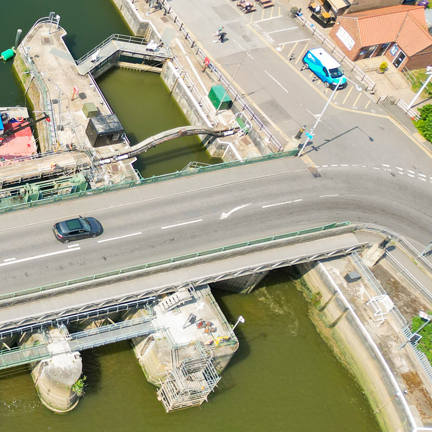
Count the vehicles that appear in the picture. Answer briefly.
2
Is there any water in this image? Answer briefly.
Yes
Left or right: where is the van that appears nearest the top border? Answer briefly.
right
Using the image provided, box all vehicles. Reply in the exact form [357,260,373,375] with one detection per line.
[53,214,102,242]
[301,44,348,89]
